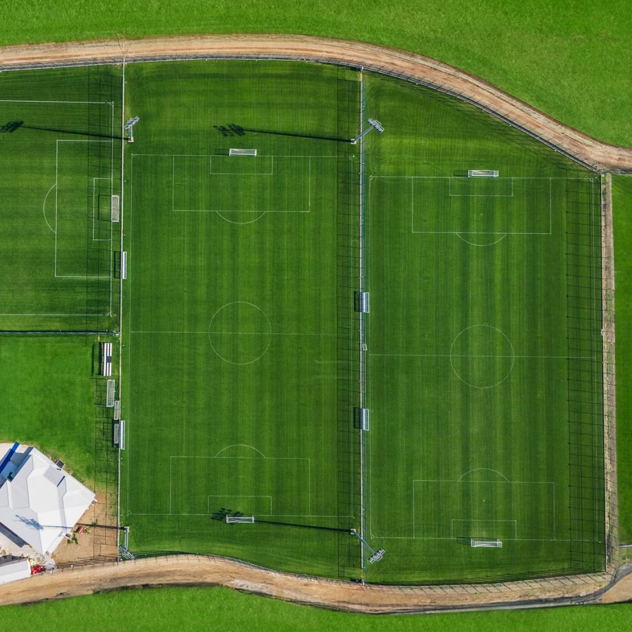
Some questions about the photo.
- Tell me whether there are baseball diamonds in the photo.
No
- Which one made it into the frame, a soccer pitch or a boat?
soccer pitch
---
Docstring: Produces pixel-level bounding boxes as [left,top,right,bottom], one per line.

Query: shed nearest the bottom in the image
[0,559,32,585]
